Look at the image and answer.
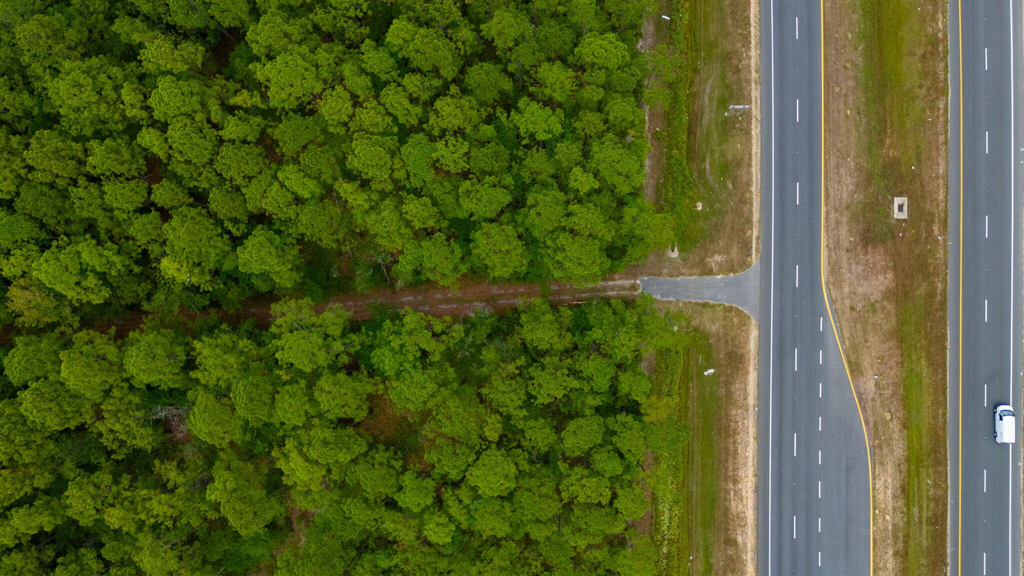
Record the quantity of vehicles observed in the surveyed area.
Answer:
1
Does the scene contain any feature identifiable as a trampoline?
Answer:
No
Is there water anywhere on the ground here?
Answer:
No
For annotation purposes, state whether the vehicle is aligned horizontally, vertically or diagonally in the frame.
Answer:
vertically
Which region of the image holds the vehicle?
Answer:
bottom right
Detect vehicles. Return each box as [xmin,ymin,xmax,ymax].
[993,403,1014,445]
